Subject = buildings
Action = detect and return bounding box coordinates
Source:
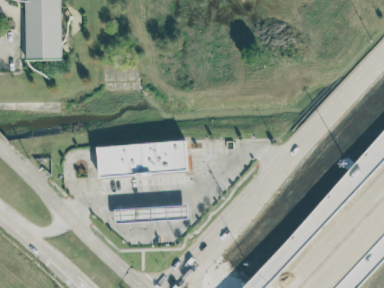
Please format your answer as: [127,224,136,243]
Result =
[96,140,188,179]
[20,0,62,60]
